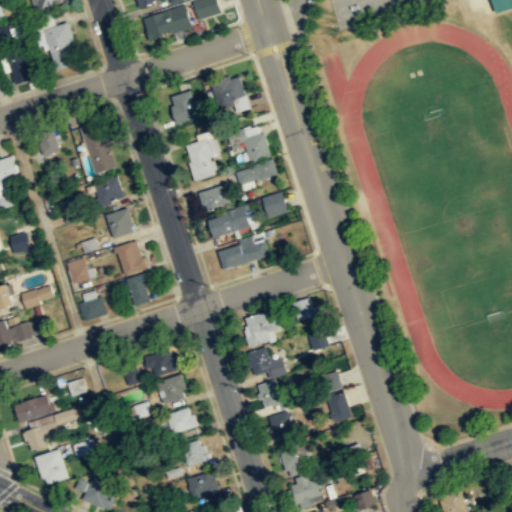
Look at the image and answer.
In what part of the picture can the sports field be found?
right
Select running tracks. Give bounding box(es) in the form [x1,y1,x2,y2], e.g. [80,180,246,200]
[324,24,512,406]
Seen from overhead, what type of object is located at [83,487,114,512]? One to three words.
house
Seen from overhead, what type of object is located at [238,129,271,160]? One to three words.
house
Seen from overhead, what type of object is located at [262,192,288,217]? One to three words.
building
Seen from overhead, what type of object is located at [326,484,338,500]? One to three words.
vehicle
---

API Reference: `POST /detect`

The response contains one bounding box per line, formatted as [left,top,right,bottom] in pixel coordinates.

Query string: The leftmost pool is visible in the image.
[22,274,47,290]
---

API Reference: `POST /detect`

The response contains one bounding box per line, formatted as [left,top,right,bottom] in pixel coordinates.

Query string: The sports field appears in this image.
[363,42,512,388]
